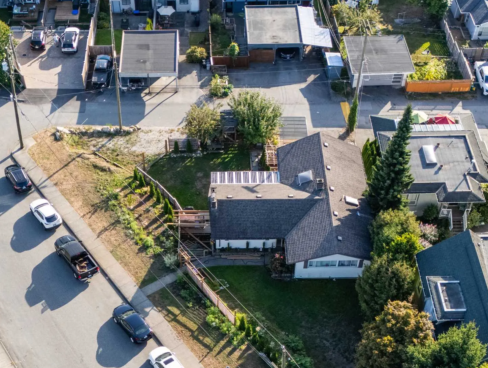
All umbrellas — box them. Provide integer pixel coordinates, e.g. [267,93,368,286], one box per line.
[157,6,175,18]
[434,104,462,128]
[413,105,432,127]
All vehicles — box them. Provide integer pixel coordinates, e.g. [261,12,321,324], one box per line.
[111,298,155,347]
[27,195,62,234]
[1,161,32,196]
[54,233,99,285]
[90,56,111,88]
[30,26,48,50]
[62,29,80,54]
[474,61,488,96]
[279,47,296,61]
[147,342,183,368]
